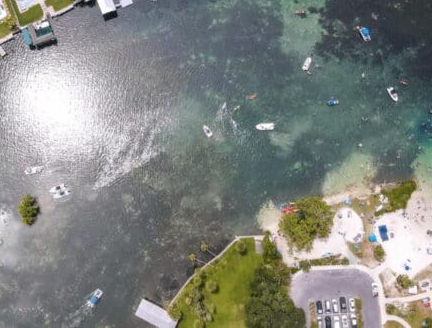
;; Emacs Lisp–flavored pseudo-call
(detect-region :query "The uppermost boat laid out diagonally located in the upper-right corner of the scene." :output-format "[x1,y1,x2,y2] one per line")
[359,27,371,42]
